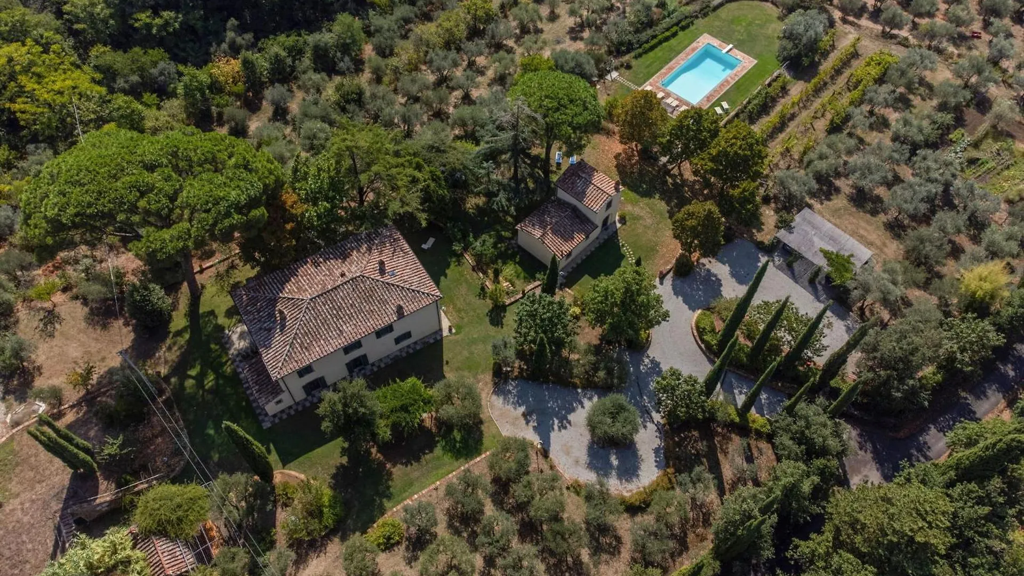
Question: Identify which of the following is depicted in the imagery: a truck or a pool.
pool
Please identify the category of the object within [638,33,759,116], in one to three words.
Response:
swimming pool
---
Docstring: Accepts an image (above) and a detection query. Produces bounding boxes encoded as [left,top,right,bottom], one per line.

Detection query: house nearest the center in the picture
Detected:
[517,163,624,269]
